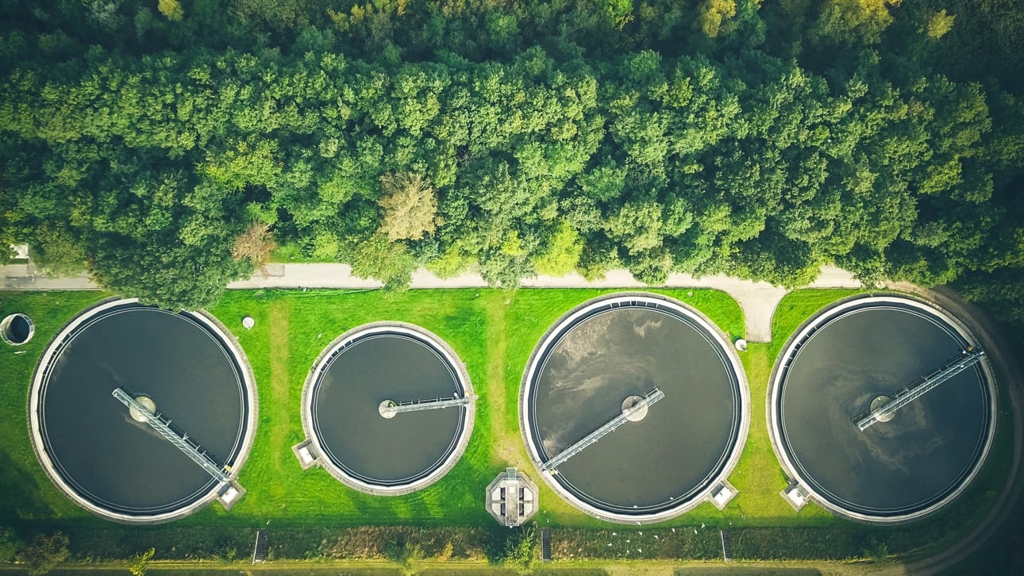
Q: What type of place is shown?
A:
industrial area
